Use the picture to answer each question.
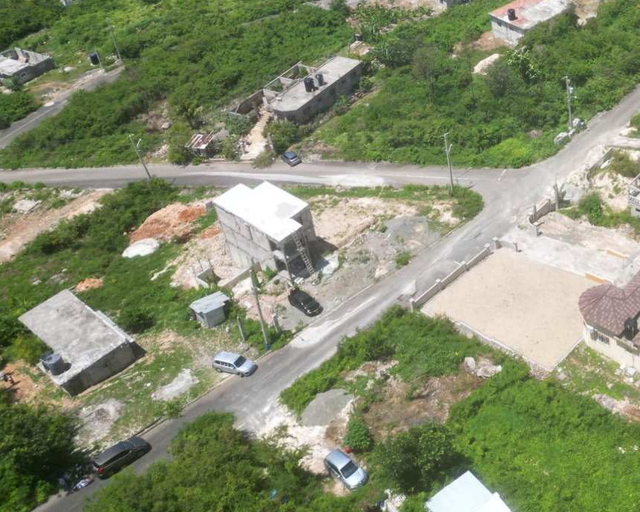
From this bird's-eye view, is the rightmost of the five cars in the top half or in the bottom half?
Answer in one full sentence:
Seen from above, the rightmost of the five cars lies in the bottom half of the view.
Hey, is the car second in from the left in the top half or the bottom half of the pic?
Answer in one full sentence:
The car second in from the left sits in the bottom half of the picture.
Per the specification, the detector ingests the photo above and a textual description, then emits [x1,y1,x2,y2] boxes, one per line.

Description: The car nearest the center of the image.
[285,286,321,314]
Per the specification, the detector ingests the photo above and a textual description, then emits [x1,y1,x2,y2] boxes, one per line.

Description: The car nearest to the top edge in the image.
[280,147,301,165]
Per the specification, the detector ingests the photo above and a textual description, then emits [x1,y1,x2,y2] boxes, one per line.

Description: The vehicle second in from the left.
[209,352,256,380]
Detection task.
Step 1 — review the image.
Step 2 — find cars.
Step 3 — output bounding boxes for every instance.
[285,286,321,314]
[85,436,154,482]
[320,447,368,491]
[280,147,301,165]
[209,352,256,380]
